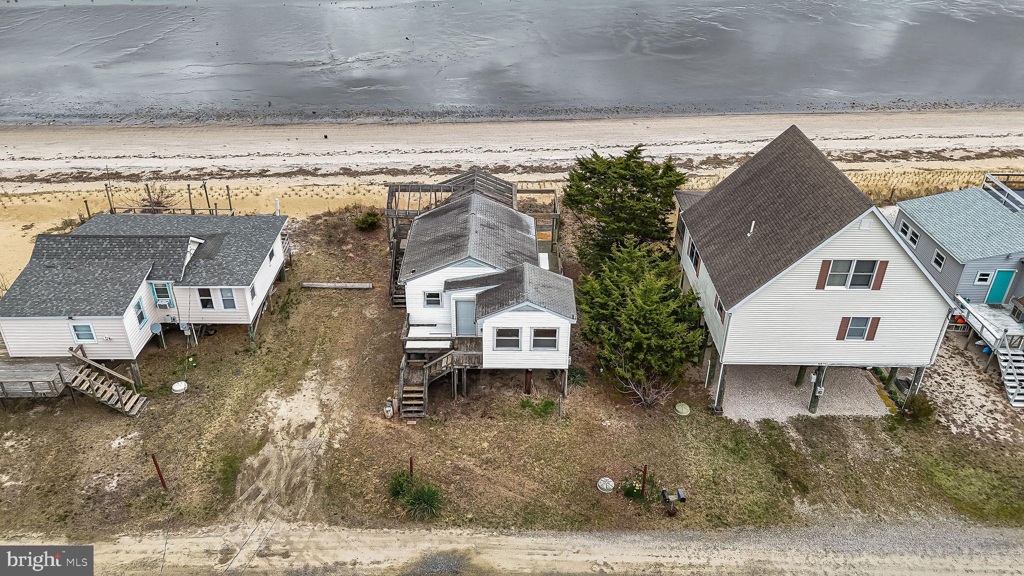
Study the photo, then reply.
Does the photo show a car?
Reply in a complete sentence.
No, no car is visible in the view.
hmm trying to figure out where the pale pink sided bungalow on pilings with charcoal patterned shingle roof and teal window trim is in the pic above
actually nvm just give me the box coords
[0,216,306,383]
